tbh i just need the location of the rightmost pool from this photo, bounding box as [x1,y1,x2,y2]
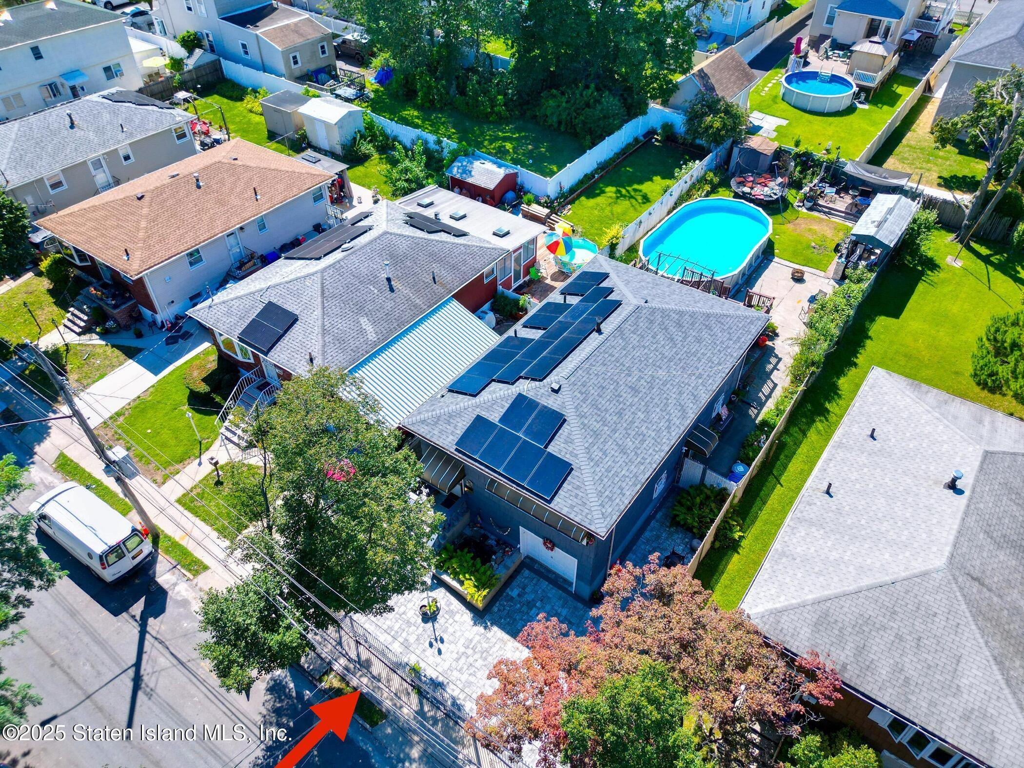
[780,69,859,112]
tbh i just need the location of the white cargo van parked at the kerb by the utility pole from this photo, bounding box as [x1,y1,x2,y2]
[39,480,159,590]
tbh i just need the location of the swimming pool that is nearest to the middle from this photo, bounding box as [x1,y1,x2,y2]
[548,239,606,278]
